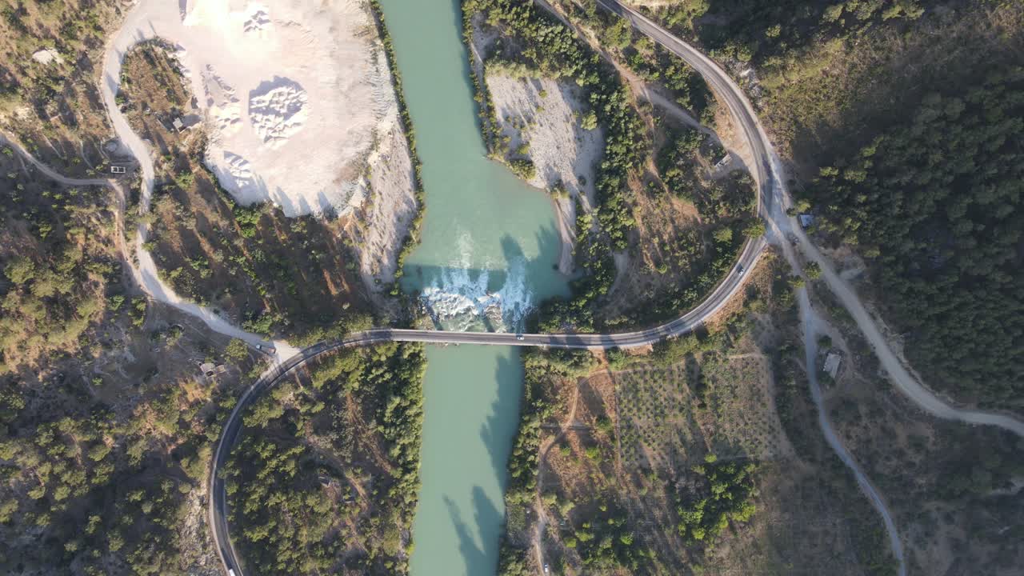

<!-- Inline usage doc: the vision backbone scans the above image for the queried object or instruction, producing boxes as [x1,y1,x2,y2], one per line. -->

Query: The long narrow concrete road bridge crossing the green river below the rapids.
[391,328,552,350]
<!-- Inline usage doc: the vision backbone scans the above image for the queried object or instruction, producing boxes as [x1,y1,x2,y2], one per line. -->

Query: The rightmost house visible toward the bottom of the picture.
[821,352,842,378]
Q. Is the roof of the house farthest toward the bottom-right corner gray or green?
gray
